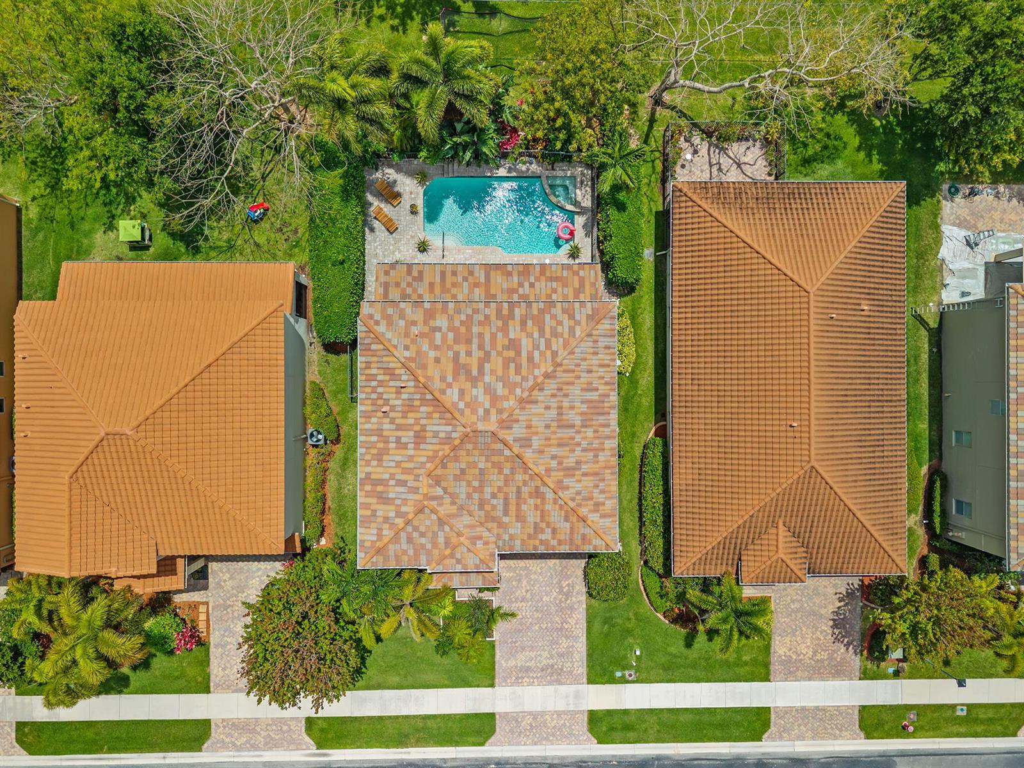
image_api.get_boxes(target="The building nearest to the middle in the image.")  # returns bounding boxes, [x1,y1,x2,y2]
[355,261,621,589]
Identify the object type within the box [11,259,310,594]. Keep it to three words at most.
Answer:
house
